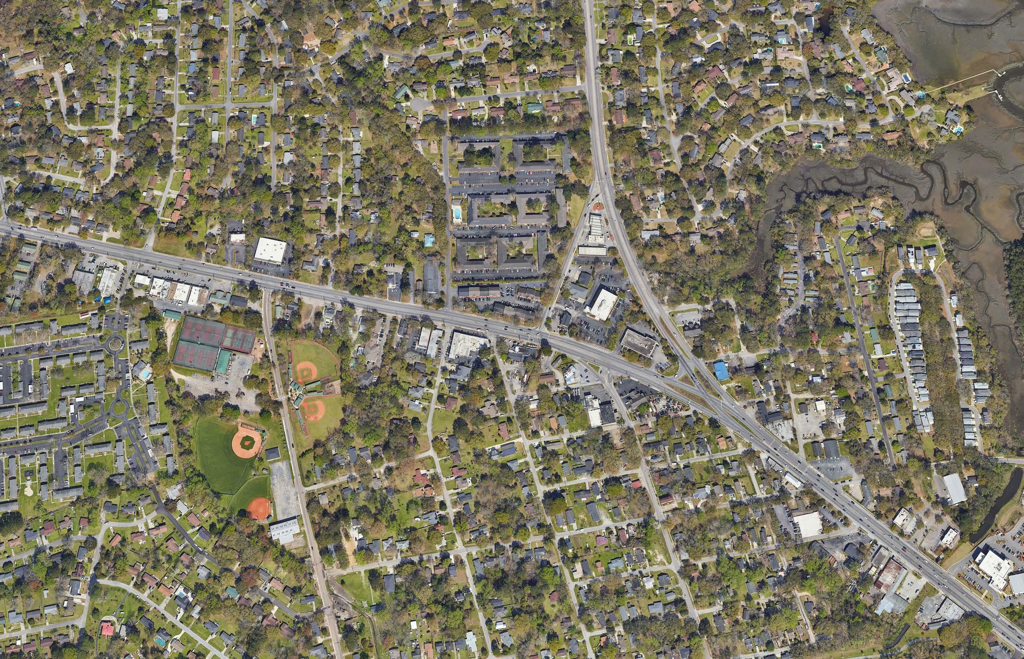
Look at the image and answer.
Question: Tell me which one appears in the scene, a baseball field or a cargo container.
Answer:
baseball field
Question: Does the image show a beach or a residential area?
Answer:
residential area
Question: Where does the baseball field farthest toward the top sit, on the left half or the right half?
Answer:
left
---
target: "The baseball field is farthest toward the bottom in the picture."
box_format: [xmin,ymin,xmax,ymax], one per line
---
[226,476,272,521]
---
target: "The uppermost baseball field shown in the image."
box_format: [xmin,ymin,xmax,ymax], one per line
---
[290,340,341,386]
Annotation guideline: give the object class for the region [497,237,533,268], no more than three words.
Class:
building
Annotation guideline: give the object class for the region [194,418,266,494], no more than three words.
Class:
baseball field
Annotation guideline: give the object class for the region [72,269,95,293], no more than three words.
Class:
building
